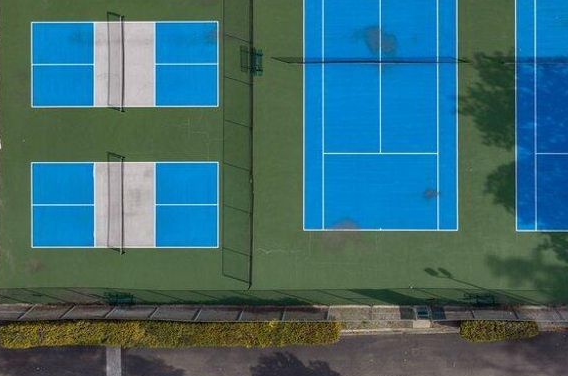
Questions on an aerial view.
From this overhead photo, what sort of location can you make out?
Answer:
sports ground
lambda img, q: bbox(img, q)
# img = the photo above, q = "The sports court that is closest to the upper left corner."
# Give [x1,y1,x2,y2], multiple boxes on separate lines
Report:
[32,21,218,107]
